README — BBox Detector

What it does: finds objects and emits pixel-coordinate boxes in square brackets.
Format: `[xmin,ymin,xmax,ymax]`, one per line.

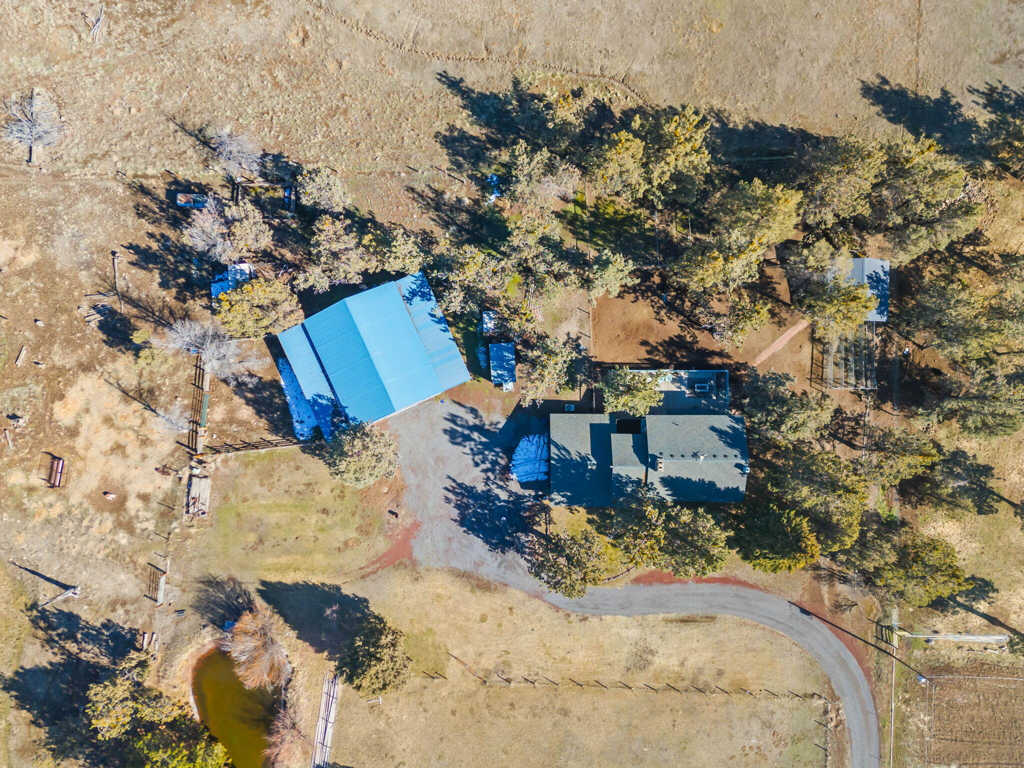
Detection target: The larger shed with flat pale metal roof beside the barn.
[490,343,515,384]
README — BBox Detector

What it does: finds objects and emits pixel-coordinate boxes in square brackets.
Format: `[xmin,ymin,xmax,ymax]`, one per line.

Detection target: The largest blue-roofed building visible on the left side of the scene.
[278,272,471,443]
